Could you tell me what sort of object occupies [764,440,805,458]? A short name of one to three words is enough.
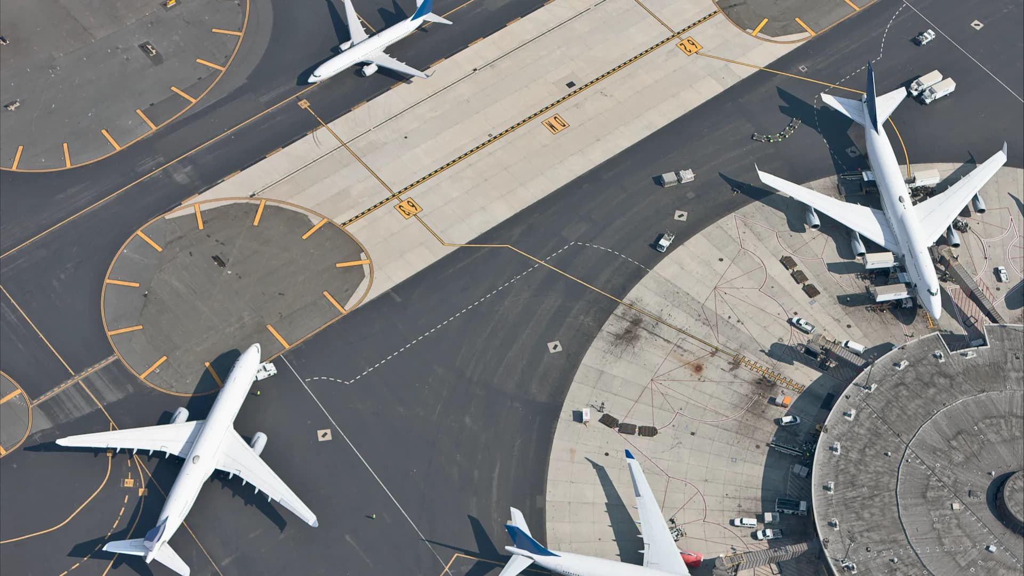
work vehicle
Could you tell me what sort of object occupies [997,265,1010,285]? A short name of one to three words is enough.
vehicle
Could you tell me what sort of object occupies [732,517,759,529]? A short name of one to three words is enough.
vehicle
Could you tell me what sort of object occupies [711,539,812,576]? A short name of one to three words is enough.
jet bridge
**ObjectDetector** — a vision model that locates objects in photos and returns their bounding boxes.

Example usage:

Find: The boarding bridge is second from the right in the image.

[802,334,865,382]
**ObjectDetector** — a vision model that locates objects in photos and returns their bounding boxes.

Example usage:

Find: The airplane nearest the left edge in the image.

[57,346,319,572]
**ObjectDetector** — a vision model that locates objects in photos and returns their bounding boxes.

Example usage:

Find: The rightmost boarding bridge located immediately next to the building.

[927,242,1008,324]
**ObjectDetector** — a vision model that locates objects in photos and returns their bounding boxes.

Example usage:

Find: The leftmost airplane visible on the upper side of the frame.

[308,0,453,84]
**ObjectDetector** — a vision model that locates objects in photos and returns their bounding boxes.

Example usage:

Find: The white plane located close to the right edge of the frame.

[755,60,1011,322]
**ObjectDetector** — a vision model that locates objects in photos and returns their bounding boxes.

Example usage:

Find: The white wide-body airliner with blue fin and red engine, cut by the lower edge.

[501,447,708,576]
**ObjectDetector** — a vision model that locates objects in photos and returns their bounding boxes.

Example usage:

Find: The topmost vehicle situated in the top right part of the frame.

[916,31,935,45]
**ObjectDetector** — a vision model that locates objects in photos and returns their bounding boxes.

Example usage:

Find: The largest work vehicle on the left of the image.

[256,363,278,383]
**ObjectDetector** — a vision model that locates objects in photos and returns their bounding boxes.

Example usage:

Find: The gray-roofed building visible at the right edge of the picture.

[809,322,1024,576]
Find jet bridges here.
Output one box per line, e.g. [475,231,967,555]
[927,242,1008,324]
[802,334,865,382]
[711,539,812,576]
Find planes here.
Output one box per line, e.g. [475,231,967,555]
[755,60,1011,322]
[308,0,453,84]
[501,447,708,576]
[57,346,319,572]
